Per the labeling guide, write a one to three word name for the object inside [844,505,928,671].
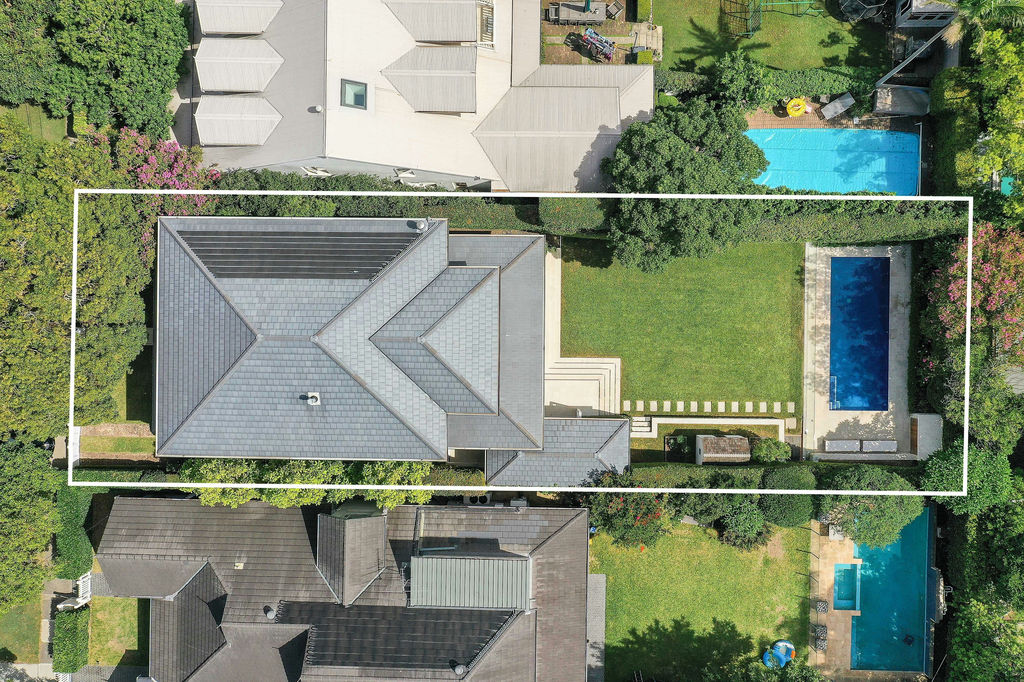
swimming pool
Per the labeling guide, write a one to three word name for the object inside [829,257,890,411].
swimming pool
